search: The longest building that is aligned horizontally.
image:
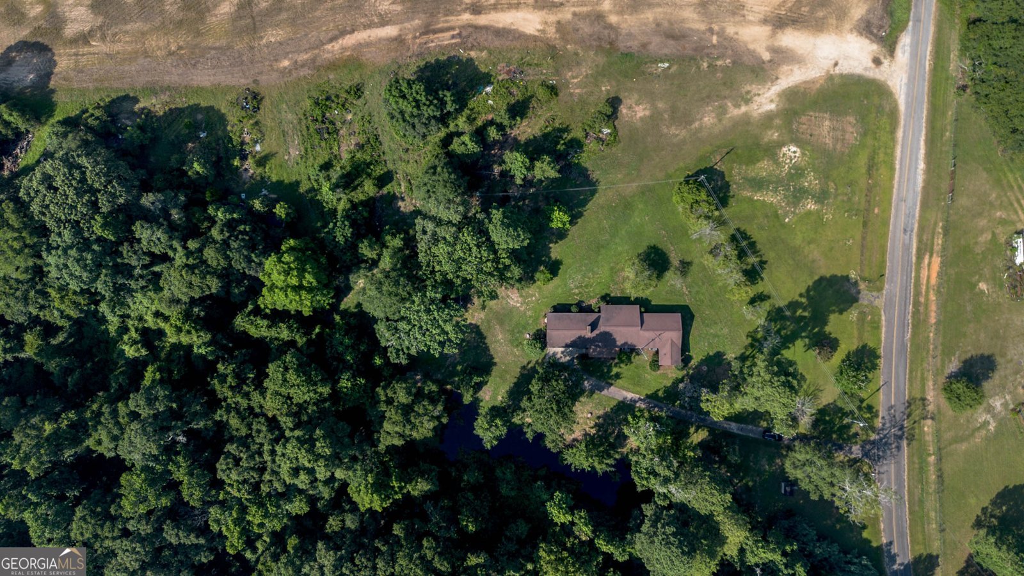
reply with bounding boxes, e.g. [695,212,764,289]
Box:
[547,305,683,365]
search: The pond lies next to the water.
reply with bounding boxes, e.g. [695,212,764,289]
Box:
[441,391,636,510]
